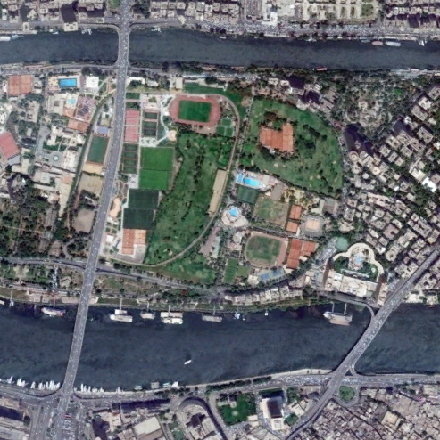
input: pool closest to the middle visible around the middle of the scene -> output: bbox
[226,206,241,219]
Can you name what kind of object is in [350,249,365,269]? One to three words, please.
swimming pool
